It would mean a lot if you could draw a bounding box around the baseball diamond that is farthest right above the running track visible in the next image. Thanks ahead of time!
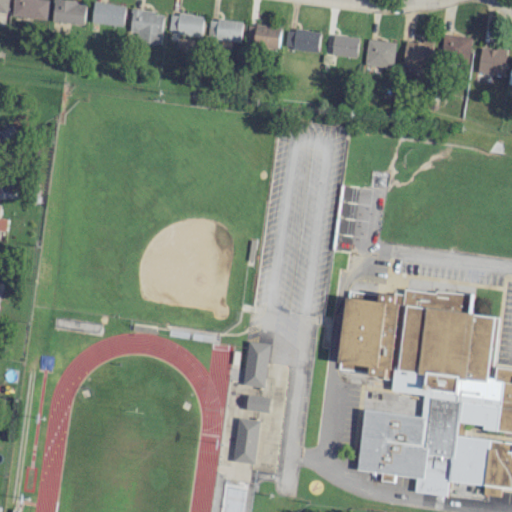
[139,218,234,320]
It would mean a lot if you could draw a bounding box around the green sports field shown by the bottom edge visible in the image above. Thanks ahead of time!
[58,356,201,512]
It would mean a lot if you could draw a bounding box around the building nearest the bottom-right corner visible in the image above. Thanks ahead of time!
[338,288,512,498]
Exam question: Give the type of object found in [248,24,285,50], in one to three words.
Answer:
house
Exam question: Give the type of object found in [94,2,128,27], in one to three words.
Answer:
house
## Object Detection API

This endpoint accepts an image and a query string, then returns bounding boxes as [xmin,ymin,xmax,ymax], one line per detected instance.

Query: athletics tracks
[36,334,233,512]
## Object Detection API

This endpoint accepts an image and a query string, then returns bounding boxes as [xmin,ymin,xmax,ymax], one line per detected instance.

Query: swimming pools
[5,369,18,383]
